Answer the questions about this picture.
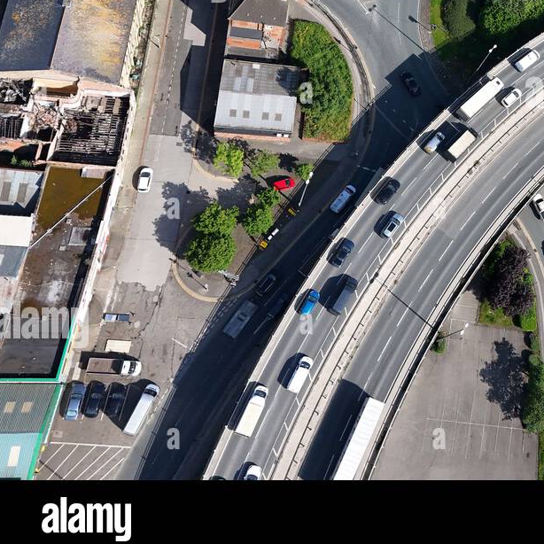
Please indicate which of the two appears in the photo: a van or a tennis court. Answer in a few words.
van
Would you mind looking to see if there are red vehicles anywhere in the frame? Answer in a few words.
Yes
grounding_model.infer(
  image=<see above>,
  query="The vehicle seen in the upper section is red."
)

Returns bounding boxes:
[271,174,300,192]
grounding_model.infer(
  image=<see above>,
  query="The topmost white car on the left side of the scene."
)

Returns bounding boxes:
[137,167,154,196]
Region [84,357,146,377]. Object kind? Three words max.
vehicle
